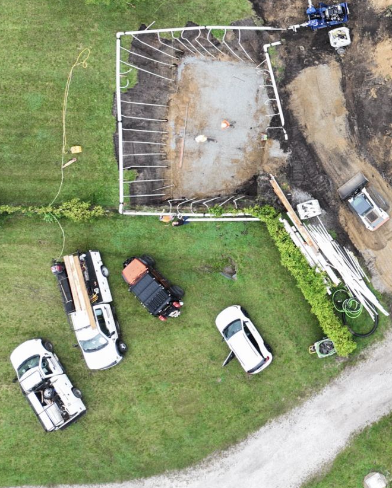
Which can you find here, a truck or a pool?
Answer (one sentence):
Looking from above, you can make out a truck.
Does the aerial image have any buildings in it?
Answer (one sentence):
No, I find no building anywhere in the image.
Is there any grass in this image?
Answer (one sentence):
Yes, grass shows up in the scene.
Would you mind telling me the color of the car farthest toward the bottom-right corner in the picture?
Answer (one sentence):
From above, the car farthest toward the bottom-right corner appears white.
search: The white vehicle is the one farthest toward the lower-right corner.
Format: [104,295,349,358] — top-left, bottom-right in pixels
[216,303,276,375]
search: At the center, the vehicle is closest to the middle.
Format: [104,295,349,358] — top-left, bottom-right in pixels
[117,248,192,324]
